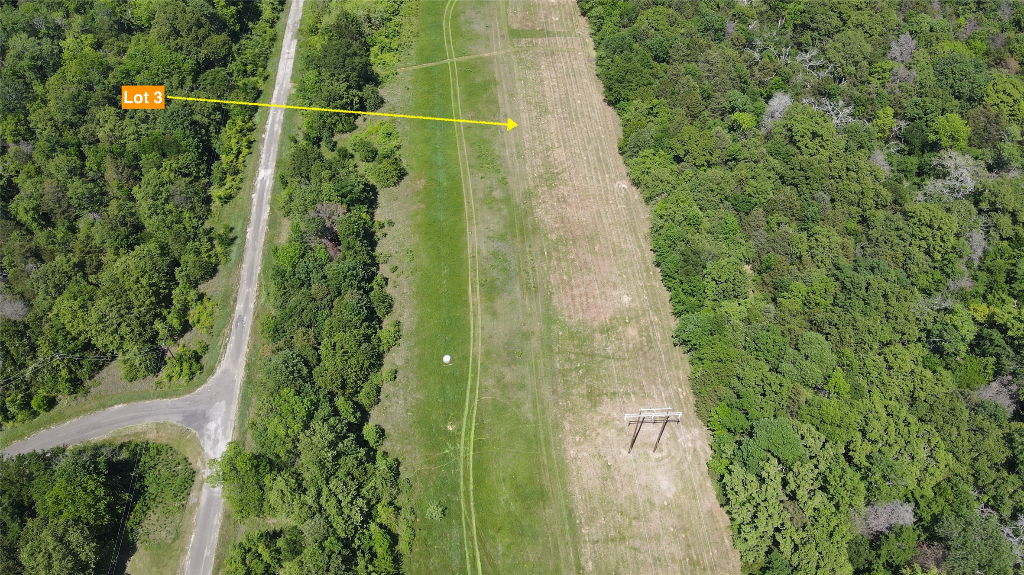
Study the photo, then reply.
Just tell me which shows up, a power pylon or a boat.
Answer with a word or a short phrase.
power pylon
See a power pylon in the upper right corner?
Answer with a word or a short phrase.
No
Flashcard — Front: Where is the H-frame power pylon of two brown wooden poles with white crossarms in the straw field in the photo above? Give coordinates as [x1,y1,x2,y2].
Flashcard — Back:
[625,406,681,455]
